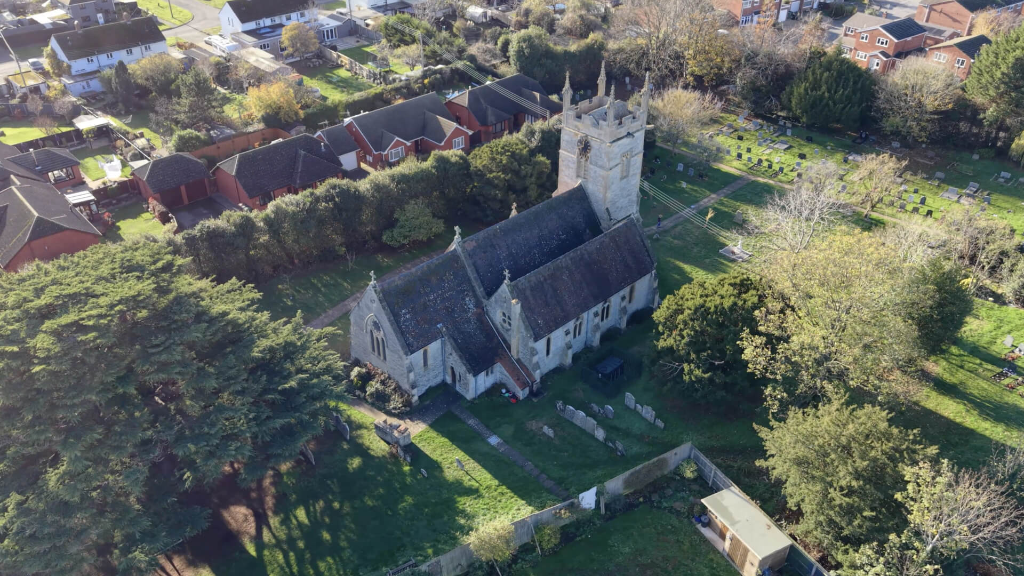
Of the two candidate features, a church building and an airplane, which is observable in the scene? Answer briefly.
church building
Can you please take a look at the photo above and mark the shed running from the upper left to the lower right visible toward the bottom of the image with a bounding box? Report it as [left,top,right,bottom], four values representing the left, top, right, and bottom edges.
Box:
[700,484,797,576]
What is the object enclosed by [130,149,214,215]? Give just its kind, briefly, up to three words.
building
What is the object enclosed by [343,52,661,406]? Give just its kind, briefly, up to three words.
church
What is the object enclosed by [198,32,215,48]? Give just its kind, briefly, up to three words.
car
